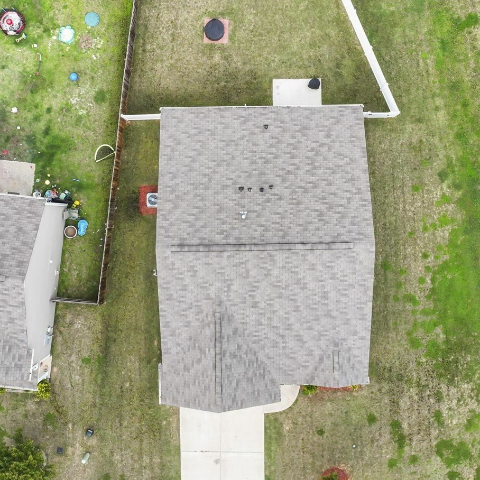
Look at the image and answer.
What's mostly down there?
grass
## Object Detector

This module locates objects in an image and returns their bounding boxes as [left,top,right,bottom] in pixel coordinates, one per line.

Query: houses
[0,191,66,389]
[155,104,375,411]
